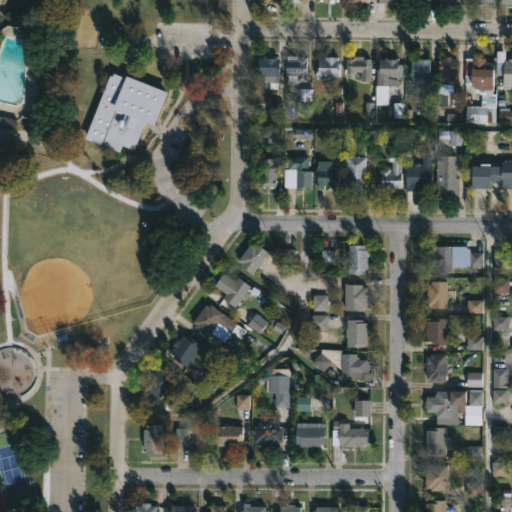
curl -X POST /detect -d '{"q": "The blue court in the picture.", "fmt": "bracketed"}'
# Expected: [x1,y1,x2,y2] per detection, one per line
[0,433,34,504]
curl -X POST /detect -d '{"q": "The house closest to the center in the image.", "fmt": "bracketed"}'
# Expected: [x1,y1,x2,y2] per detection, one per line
[240,246,268,276]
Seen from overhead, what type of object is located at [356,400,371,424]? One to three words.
building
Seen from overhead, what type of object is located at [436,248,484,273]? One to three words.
house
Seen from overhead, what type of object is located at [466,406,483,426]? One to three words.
building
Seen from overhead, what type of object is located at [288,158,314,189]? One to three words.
house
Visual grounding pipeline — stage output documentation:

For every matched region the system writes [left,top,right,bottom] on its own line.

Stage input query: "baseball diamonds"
[22,258,94,335]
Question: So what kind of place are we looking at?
residential area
